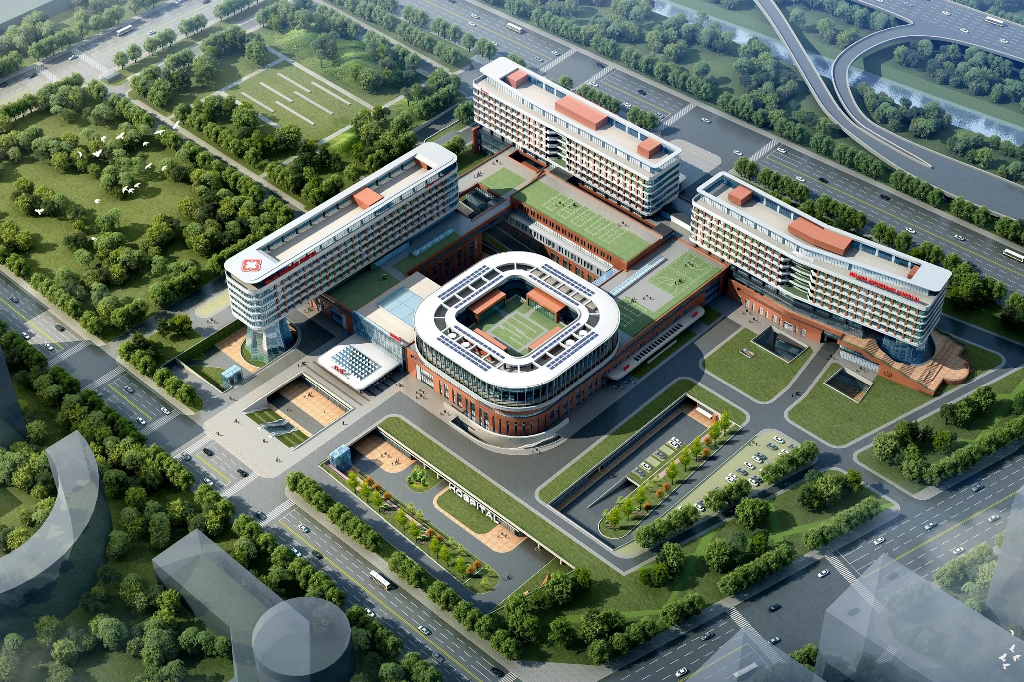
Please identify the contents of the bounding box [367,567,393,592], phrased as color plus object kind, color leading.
white bus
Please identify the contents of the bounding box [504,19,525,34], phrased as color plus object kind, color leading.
white vehicle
